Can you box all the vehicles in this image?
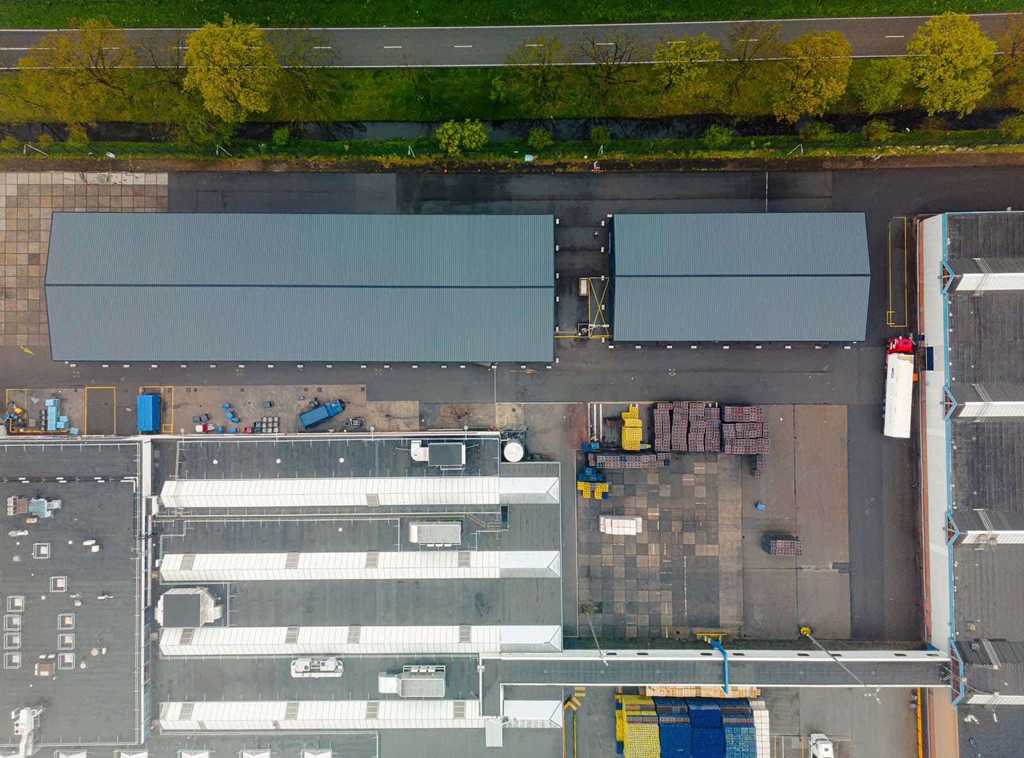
[881,337,912,438]
[807,725,832,758]
[342,417,367,427]
[298,400,342,427]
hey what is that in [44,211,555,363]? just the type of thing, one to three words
shed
